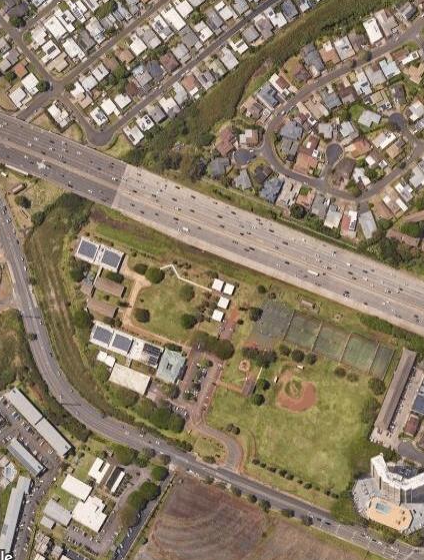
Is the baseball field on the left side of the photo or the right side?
right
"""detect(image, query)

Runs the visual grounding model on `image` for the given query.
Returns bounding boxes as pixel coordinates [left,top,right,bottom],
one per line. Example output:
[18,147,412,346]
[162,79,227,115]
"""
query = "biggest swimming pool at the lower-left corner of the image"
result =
[1,462,17,481]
